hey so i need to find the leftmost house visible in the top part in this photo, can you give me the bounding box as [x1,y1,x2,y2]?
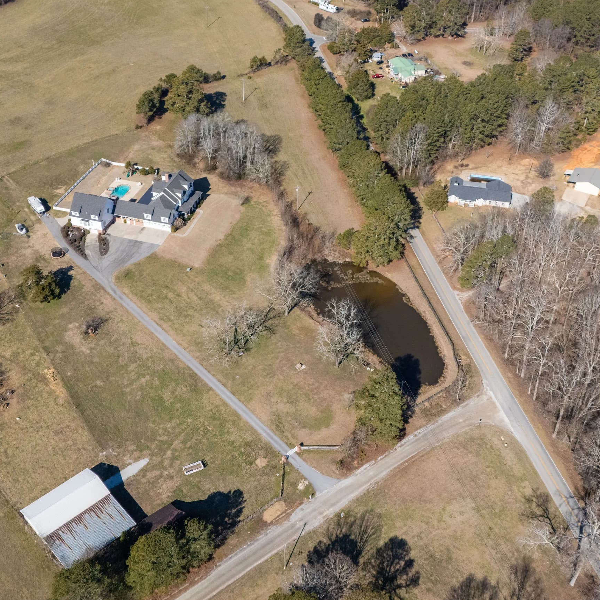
[67,193,117,232]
